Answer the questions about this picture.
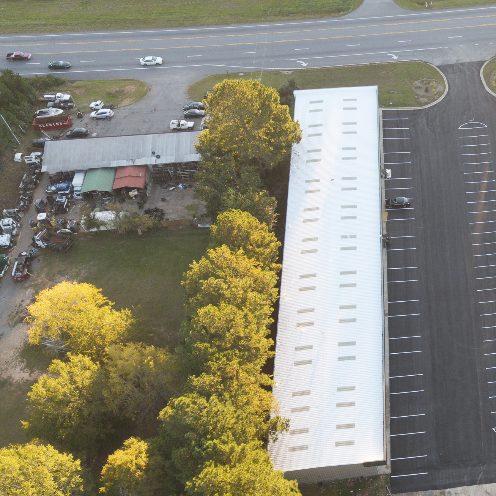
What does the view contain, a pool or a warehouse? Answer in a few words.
warehouse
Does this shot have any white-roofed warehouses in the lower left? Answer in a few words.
No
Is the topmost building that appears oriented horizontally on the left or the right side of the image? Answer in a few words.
left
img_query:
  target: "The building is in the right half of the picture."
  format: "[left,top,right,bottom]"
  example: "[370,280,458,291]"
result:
[272,83,387,483]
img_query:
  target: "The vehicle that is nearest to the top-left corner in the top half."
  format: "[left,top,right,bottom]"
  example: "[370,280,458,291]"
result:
[3,50,32,62]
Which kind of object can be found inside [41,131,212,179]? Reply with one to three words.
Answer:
building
